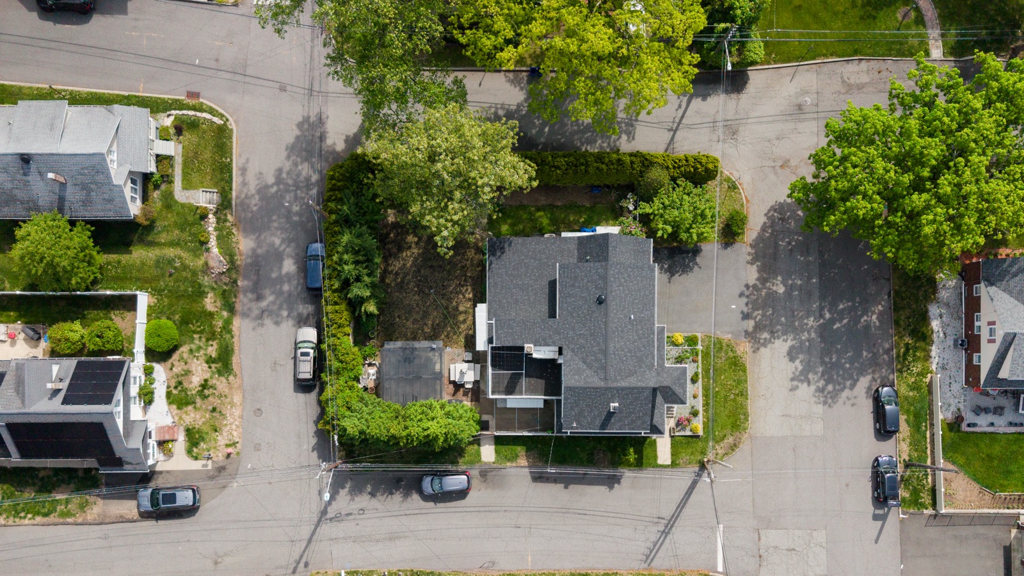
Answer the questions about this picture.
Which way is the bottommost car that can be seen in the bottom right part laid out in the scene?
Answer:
from top to bottom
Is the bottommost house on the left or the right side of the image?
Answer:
left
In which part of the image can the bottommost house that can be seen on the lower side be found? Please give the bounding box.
[0,358,163,473]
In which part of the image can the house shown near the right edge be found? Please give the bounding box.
[965,259,1024,390]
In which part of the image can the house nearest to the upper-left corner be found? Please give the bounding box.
[0,100,174,220]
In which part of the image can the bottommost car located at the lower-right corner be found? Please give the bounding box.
[874,455,904,516]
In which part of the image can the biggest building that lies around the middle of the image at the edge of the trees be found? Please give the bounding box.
[475,227,689,437]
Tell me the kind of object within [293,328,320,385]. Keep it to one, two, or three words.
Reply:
car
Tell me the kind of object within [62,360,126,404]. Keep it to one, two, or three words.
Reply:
solar panel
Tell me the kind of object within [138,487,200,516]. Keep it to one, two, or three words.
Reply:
car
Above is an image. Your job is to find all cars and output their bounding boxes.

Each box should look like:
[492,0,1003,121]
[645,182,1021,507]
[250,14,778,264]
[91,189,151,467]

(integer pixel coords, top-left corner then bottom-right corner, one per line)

[301,242,326,293]
[421,470,473,497]
[874,455,904,516]
[138,487,200,516]
[874,385,903,437]
[33,0,91,13]
[293,328,320,385]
